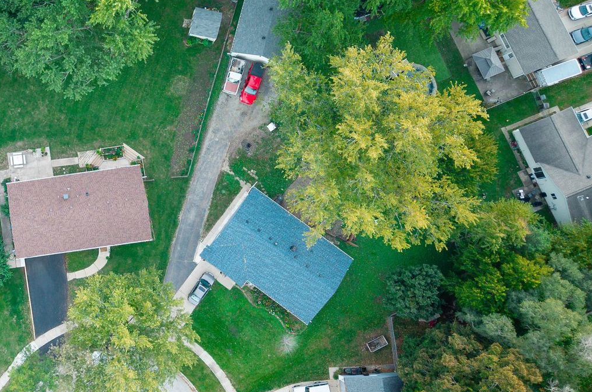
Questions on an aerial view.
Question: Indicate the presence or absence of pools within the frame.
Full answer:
Yes, the photo shows a pool.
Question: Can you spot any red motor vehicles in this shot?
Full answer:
Yes, looking at the shot, I can spot a red motor vehicle.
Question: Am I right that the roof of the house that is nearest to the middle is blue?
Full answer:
Yes, the roof of the house that is nearest to the middle is indeed blue.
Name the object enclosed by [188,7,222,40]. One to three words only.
shed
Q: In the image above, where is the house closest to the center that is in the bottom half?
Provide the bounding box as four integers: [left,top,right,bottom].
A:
[198,187,353,324]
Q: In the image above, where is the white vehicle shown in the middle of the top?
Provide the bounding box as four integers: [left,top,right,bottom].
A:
[226,53,246,94]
